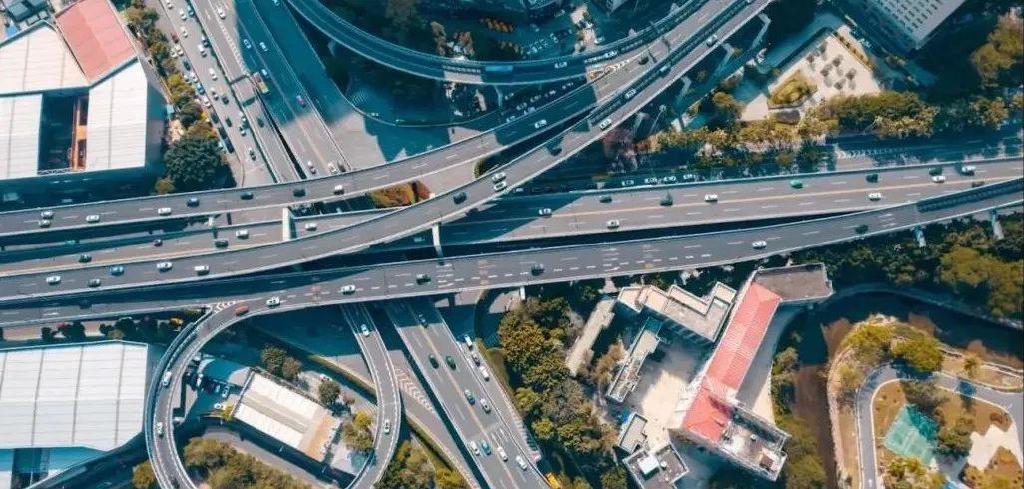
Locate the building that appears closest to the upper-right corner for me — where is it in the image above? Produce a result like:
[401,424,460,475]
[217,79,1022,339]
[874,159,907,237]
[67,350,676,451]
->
[851,0,967,63]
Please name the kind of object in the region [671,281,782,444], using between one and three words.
building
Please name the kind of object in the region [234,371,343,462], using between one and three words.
building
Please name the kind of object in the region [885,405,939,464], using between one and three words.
sports court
